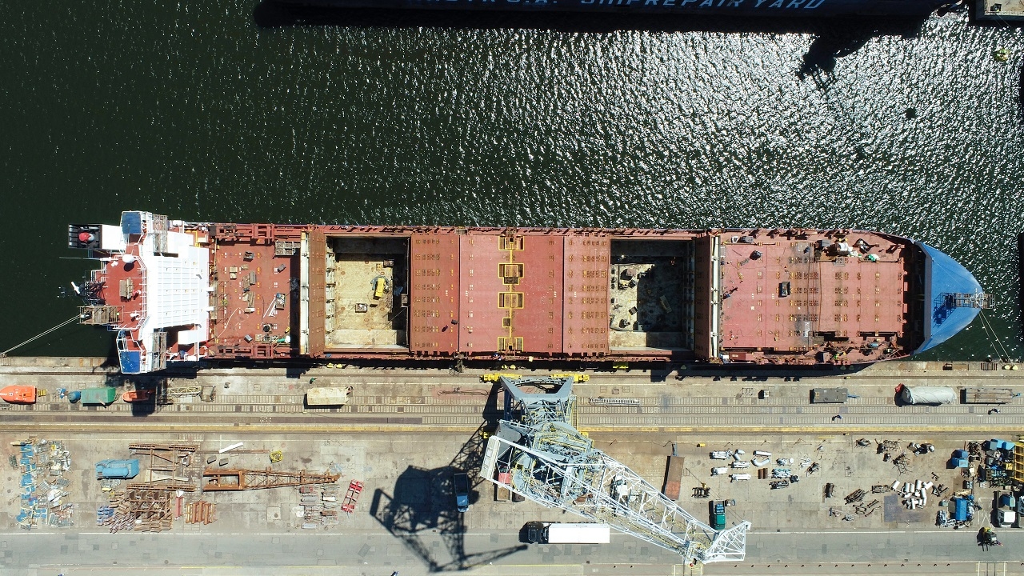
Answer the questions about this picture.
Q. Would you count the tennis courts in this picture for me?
zero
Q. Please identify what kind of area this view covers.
port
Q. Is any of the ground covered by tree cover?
No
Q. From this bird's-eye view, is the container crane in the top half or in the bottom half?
bottom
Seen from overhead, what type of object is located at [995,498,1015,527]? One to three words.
vehicle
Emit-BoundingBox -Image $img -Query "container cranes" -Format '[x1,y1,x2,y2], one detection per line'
[473,374,753,575]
